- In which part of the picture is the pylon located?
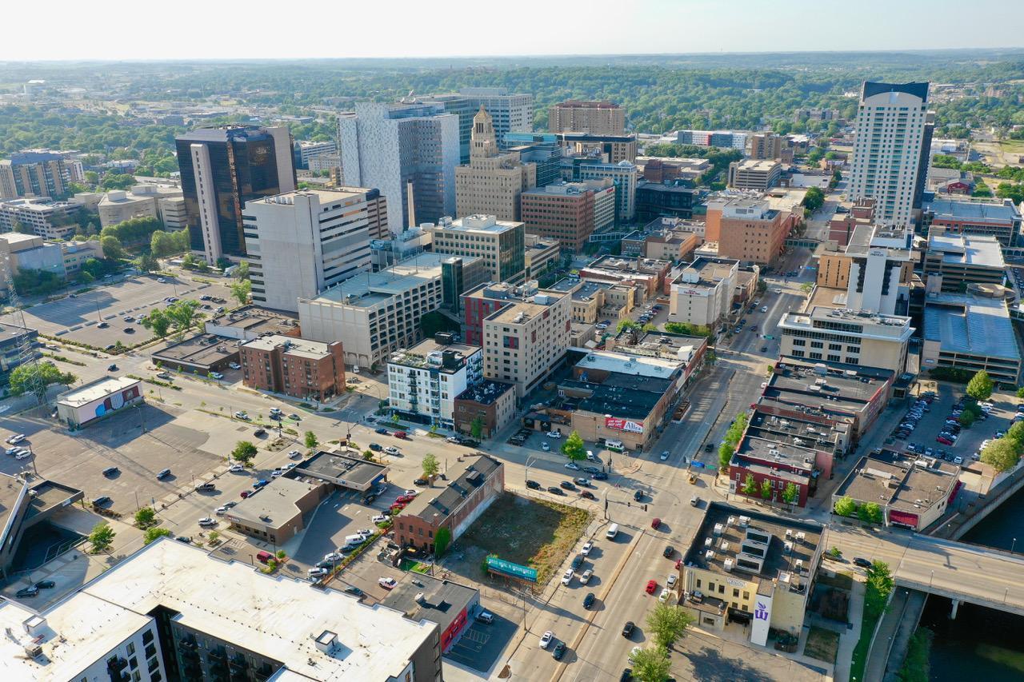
left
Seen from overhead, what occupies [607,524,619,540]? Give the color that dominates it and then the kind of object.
white vehicle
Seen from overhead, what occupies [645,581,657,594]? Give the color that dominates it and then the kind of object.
red vehicle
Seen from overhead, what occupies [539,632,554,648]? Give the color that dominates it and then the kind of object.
white car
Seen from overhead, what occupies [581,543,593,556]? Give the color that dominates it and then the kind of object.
white vehicle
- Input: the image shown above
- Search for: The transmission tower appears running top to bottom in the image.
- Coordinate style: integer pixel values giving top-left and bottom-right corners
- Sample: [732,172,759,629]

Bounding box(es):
[0,249,52,405]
